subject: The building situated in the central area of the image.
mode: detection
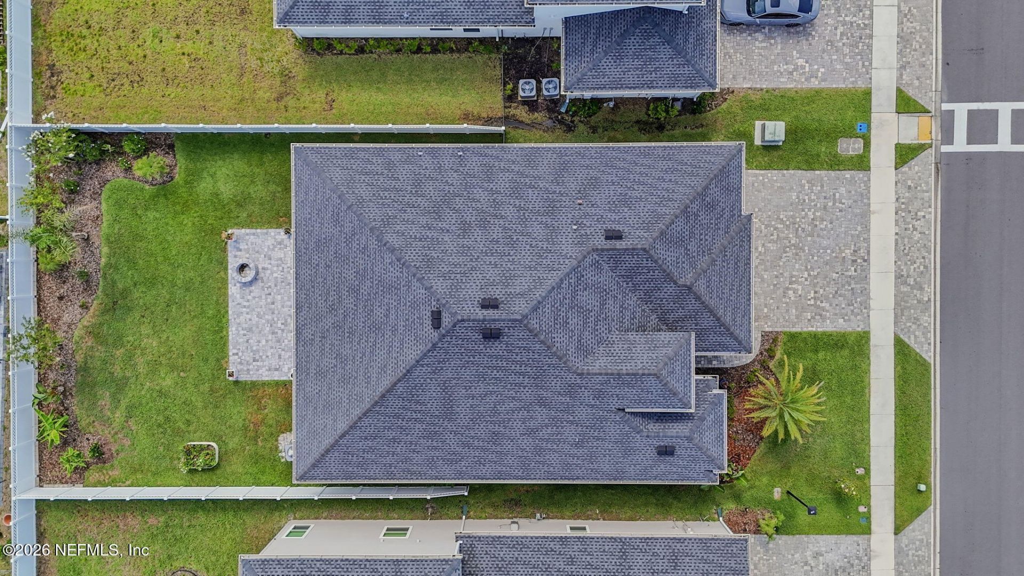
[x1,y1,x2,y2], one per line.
[292,142,759,484]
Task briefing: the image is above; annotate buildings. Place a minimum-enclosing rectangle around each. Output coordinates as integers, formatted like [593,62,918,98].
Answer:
[274,0,720,100]
[239,518,753,576]
[292,142,759,484]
